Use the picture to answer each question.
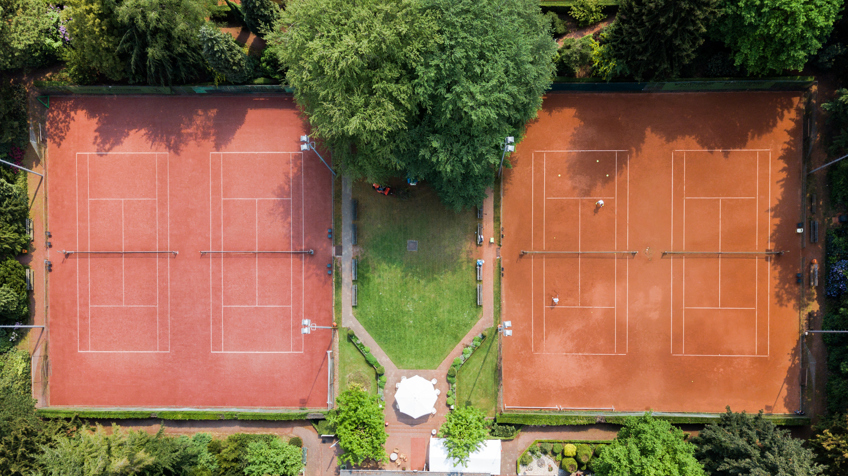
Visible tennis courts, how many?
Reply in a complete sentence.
Altogether the scene contains 4 tennis courts.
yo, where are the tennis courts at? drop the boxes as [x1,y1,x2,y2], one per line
[650,92,804,414]
[48,97,190,409]
[502,93,650,411]
[190,97,333,409]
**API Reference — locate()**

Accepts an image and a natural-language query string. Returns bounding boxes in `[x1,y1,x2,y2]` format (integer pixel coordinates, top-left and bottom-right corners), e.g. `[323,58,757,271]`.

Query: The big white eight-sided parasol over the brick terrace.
[394,375,439,421]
